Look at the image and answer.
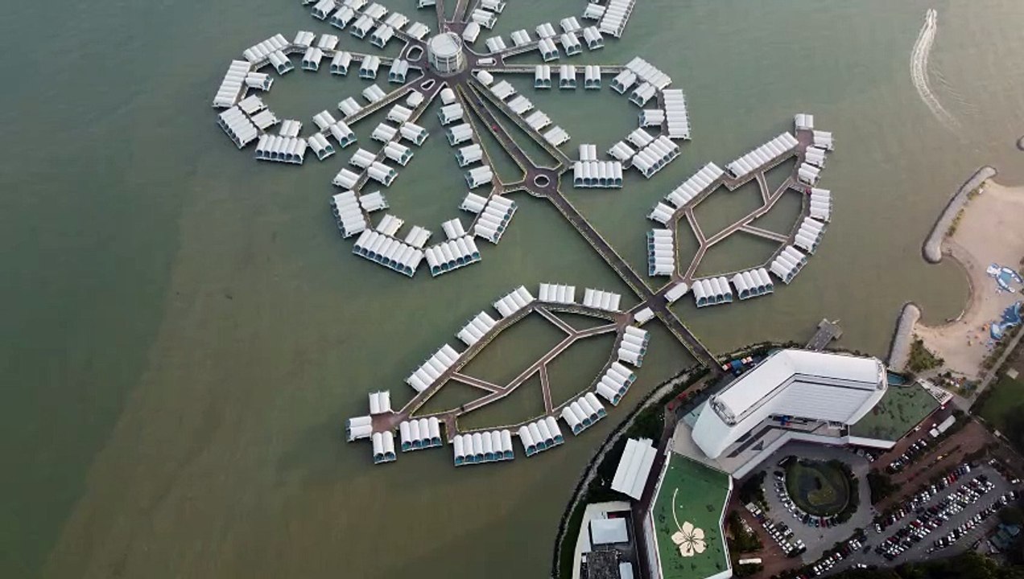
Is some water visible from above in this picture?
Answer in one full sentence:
Yes, some water is visible.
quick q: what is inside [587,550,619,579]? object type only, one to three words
building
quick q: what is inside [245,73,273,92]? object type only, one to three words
house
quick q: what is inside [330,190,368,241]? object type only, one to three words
house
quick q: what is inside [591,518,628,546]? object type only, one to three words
shed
